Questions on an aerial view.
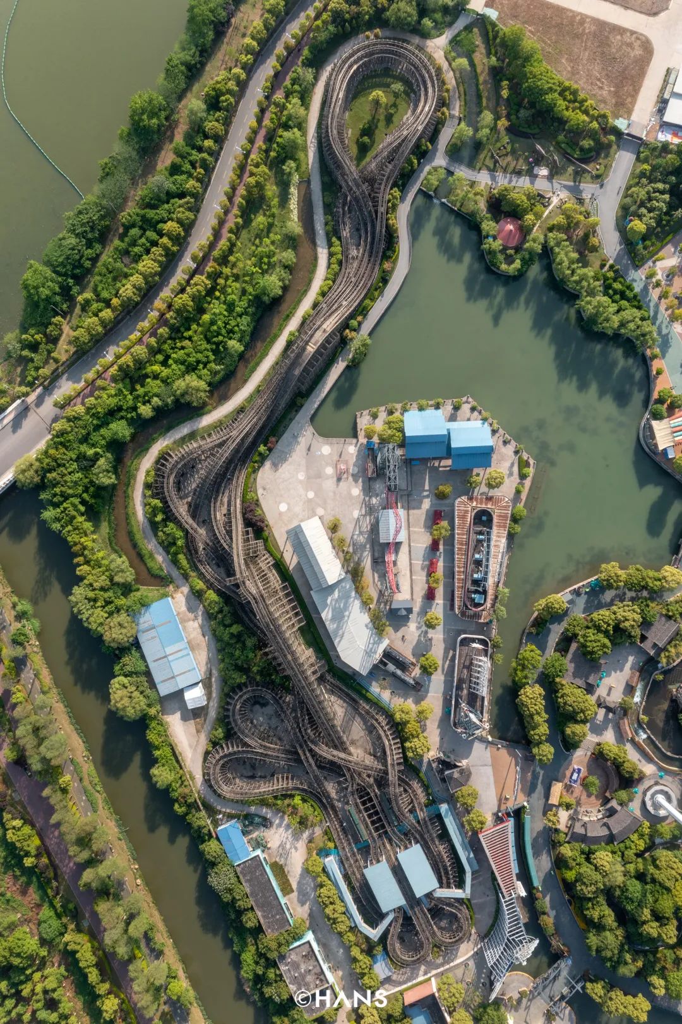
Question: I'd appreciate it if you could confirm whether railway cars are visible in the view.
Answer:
Yes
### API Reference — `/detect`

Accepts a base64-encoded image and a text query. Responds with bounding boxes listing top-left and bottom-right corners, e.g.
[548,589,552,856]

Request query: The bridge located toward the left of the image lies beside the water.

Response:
[0,387,54,488]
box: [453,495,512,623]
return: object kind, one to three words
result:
building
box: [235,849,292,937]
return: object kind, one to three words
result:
building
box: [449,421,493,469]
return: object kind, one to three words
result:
shed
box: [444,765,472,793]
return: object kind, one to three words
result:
house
